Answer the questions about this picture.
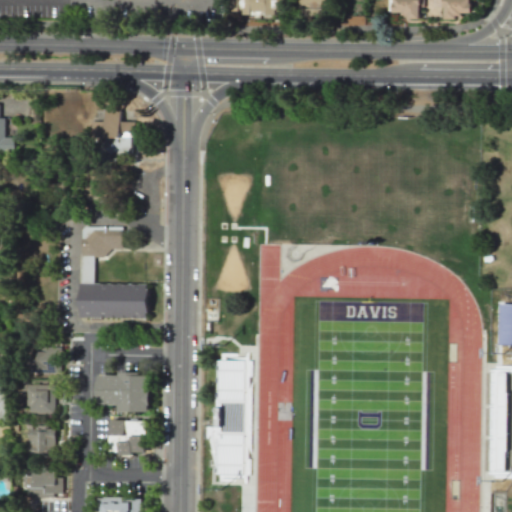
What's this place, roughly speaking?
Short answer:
sports ground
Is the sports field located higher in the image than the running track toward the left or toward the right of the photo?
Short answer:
right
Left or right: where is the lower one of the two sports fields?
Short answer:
right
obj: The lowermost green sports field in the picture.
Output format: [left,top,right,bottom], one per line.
[292,297,450,512]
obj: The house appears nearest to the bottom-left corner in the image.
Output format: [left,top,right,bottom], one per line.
[23,474,64,498]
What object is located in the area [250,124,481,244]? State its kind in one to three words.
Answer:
sports field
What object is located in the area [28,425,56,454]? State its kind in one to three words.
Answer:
house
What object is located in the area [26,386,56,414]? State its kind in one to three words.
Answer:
house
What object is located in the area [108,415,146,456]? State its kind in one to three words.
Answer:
building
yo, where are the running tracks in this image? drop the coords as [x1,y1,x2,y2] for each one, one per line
[256,244,484,512]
